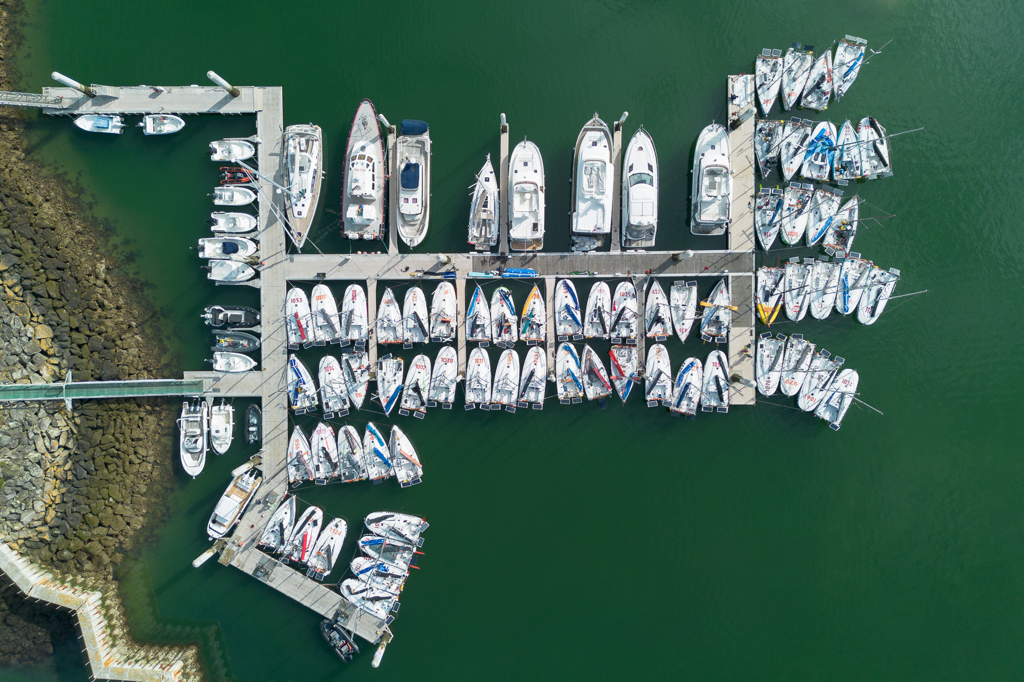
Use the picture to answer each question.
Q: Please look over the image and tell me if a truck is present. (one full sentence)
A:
No, there is no truck in the image.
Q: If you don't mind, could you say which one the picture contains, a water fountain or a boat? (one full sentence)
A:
The image shows a boat.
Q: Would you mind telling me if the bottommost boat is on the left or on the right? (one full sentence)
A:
The bottommost boat appears in the left half of the scene.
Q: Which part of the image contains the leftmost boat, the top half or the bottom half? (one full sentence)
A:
Seen from above, the leftmost boat lies in the top half of the view.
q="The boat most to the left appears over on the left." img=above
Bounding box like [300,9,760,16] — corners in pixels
[74,113,130,133]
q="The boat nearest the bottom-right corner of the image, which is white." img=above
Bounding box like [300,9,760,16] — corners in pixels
[816,368,881,432]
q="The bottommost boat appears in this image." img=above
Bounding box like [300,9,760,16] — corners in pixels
[320,620,360,666]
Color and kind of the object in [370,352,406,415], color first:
white boat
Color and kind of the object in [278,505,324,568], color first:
white boat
